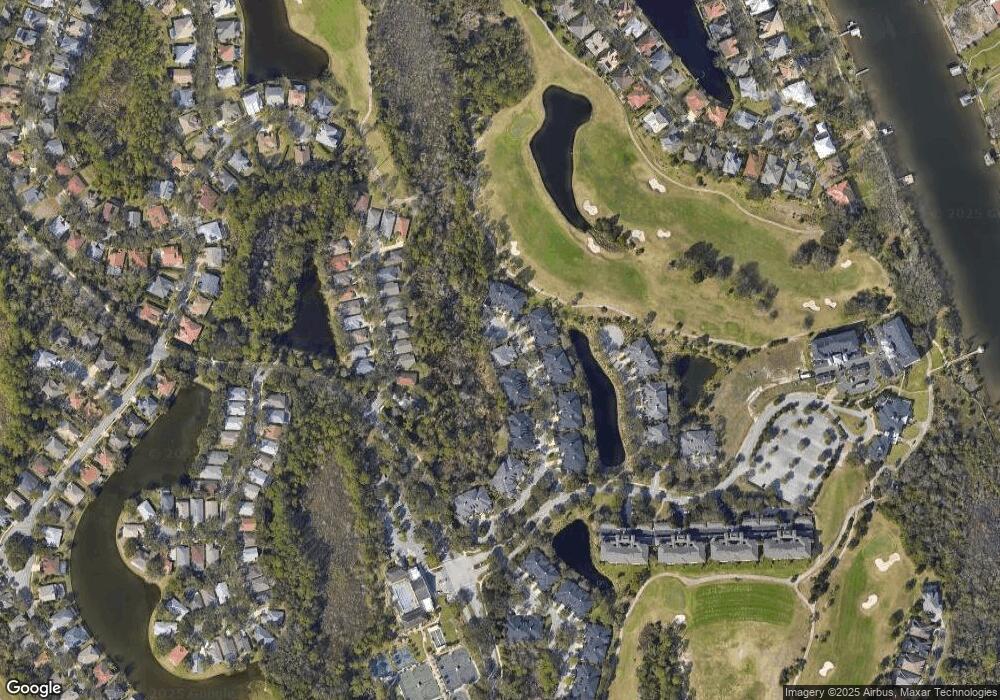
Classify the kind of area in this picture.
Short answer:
residential area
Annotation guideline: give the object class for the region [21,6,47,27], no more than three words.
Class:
house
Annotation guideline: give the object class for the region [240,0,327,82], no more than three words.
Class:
pond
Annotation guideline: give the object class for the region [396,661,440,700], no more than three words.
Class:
tennis court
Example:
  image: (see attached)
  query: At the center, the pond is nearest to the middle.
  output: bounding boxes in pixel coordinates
[570,330,624,467]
